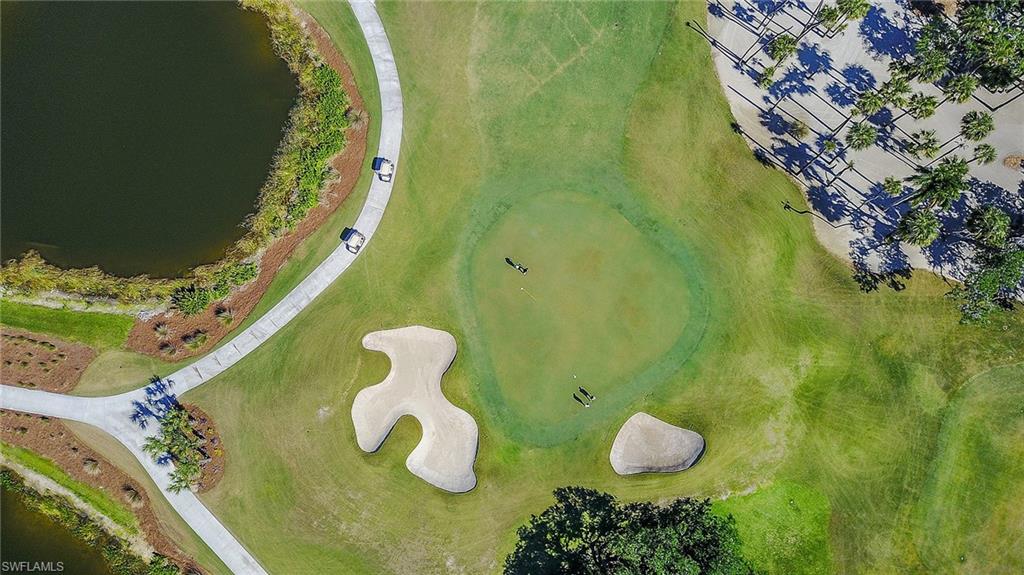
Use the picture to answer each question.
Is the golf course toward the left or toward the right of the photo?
right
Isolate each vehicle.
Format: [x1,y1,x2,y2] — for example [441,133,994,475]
[377,158,393,183]
[343,231,365,256]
